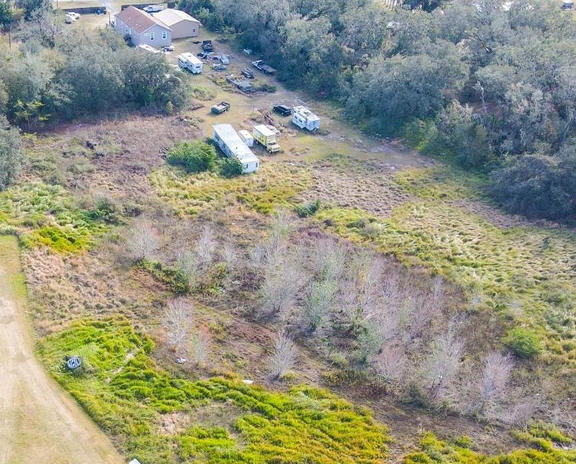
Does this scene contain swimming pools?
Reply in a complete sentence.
No, no swimming pool is visible in the view.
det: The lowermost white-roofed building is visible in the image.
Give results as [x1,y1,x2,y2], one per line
[212,125,263,171]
